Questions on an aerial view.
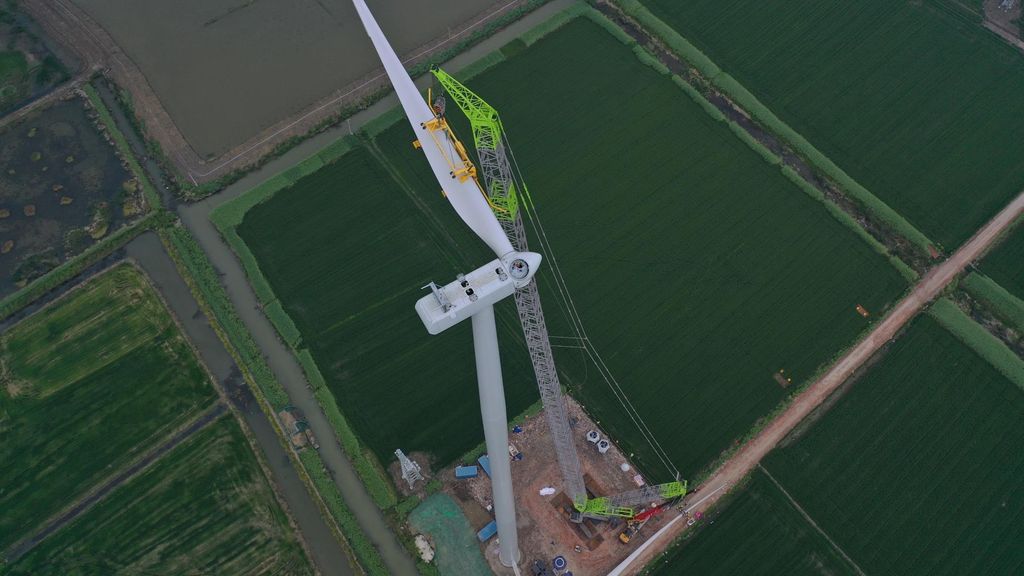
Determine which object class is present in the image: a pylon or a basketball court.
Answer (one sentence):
Of the two, only a pylon appears.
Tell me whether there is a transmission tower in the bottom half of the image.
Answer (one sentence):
Yes, a transmission tower appears in the bottom half of the image.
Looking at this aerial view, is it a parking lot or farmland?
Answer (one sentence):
This image shows farmland.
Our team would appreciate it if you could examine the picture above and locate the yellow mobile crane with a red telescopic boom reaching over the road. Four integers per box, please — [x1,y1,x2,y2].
[621,486,700,543]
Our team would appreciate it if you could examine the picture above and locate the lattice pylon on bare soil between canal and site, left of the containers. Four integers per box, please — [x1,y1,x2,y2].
[395,446,424,489]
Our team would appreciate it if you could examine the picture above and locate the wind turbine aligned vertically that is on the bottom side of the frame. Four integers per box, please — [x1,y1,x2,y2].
[415,255,543,576]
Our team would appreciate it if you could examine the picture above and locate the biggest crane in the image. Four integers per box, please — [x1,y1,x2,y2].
[430,61,683,539]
